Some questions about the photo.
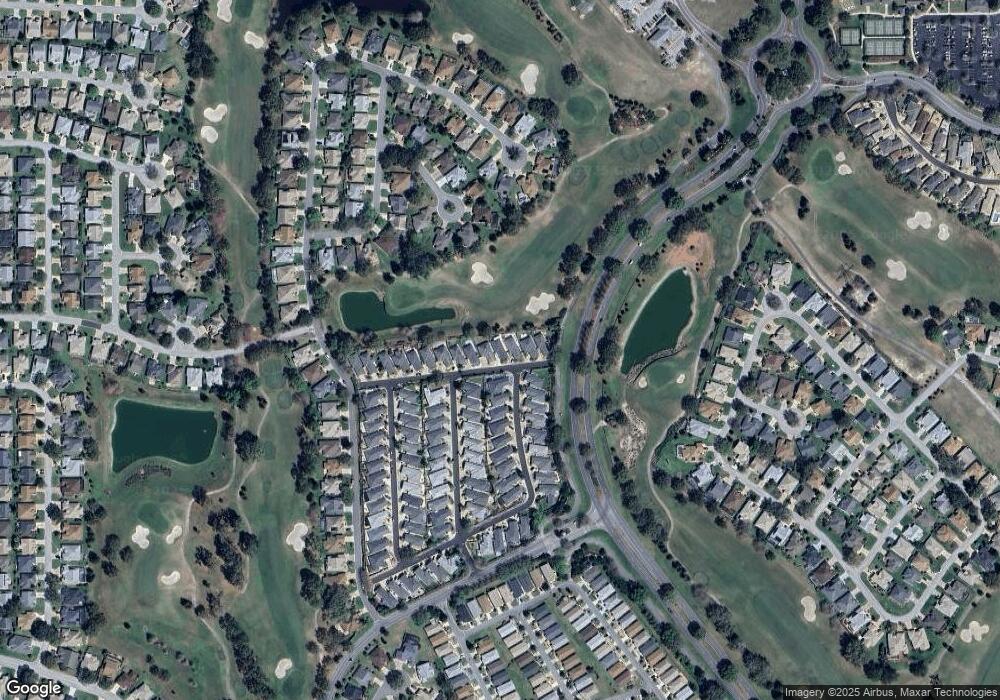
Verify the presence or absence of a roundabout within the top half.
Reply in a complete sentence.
Yes, a roundabout shows up within the top half.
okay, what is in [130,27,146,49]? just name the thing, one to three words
house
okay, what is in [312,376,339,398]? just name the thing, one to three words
house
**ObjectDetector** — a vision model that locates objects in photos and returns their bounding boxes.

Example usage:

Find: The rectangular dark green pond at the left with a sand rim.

[111,399,218,474]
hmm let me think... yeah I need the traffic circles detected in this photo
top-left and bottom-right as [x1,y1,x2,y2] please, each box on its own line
[744,30,823,112]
